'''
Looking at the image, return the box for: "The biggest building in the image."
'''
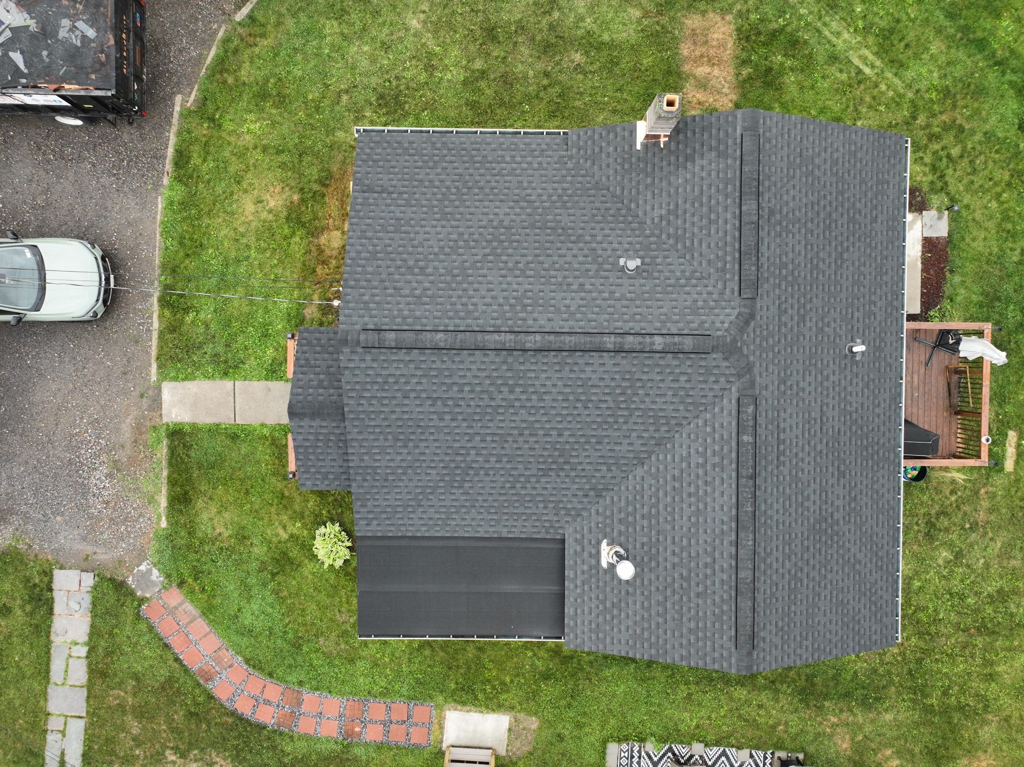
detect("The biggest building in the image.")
[288,93,910,676]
